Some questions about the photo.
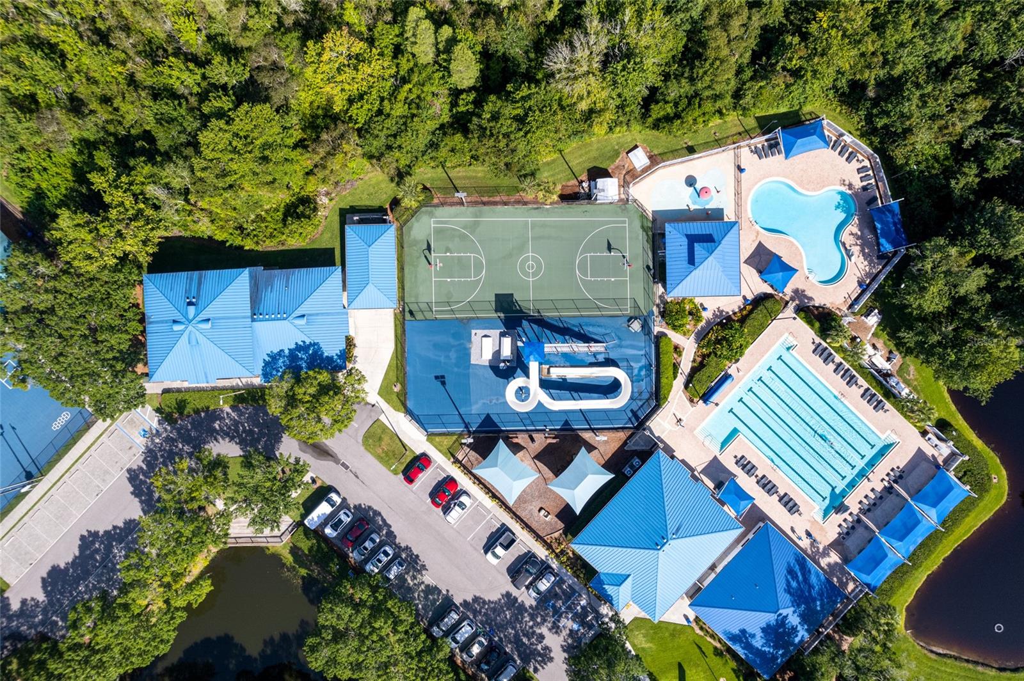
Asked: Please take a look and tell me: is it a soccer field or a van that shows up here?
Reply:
van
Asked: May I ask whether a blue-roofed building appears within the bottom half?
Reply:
Yes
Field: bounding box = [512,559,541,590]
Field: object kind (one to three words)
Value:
car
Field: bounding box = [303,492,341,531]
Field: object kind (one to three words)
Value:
van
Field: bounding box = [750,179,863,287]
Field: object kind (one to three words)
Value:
swimming pool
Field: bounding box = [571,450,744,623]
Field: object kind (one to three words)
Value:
building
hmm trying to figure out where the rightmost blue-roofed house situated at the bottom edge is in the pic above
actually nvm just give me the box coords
[689,522,847,680]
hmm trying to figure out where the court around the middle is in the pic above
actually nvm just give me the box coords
[403,203,656,433]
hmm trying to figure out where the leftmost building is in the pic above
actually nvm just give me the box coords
[143,265,350,384]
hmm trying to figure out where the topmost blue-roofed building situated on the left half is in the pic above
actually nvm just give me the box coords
[345,214,397,309]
